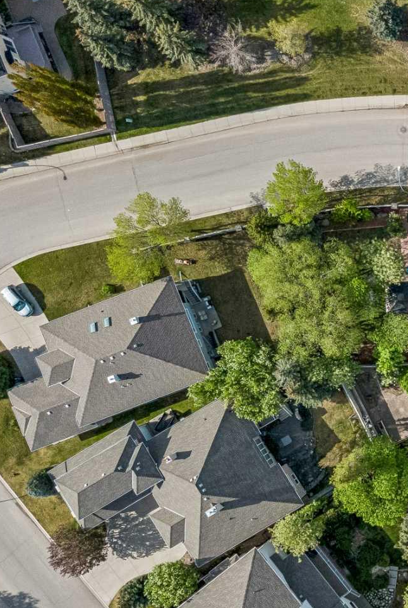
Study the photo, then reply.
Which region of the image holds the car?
left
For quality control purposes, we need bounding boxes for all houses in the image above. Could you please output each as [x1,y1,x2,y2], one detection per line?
[0,0,31,108]
[46,401,311,569]
[178,535,364,608]
[7,276,209,452]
